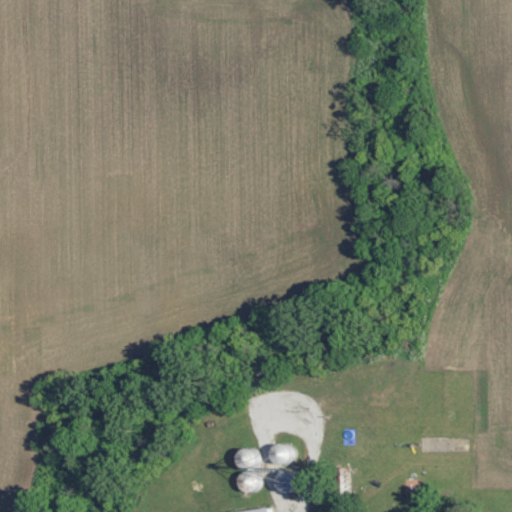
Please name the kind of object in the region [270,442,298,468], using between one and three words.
silo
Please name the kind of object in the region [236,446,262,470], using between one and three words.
silo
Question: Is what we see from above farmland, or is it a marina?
farmland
